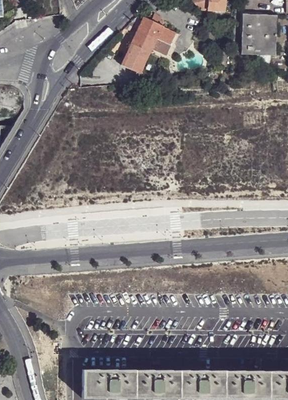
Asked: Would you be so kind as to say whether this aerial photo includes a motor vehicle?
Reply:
Yes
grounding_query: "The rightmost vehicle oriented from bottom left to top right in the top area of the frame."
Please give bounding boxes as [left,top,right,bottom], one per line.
[88,28,113,52]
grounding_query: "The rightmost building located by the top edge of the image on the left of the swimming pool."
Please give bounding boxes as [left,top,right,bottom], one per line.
[122,14,178,72]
